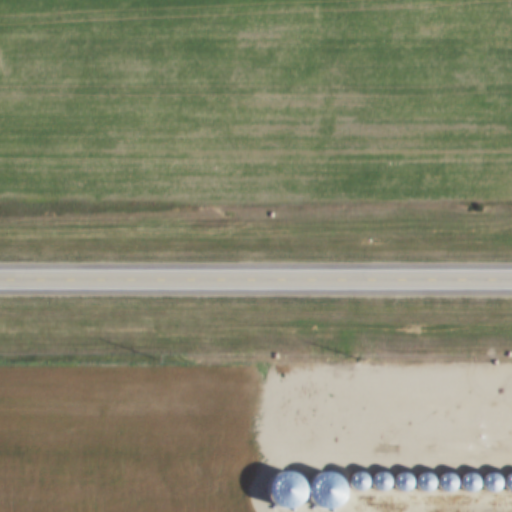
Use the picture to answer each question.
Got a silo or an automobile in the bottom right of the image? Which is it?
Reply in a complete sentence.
The feature located in the bottom right of the image is a silo.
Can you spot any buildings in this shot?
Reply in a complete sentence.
No, I can see no building in this picture.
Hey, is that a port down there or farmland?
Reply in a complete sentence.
This image shows farmland.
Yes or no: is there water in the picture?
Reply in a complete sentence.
No, no water is visible.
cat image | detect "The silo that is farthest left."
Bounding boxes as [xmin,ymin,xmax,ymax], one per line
[270,470,310,512]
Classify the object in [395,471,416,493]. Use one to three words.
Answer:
silo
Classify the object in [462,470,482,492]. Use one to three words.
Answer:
silo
